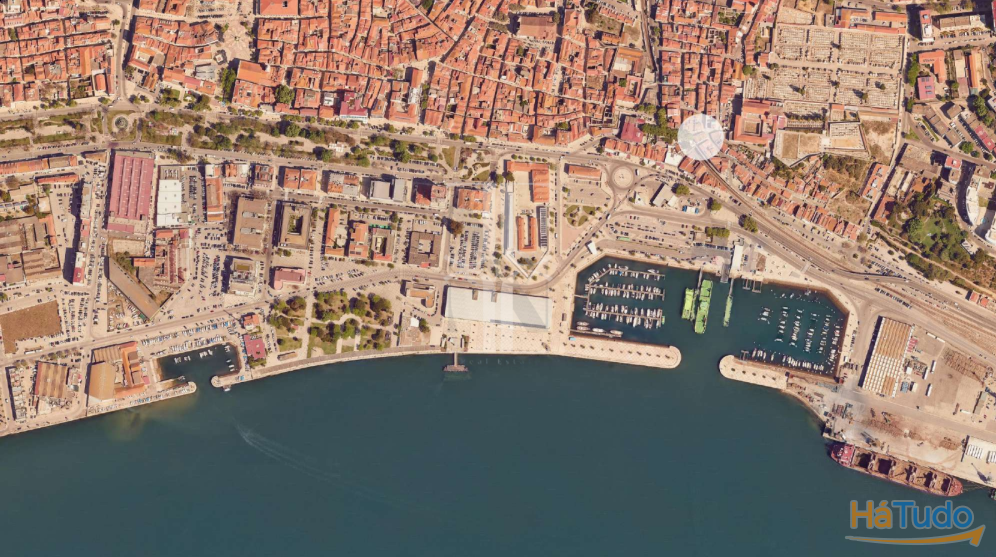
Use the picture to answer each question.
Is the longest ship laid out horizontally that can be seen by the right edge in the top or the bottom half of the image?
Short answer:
bottom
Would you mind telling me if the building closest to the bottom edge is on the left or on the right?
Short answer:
right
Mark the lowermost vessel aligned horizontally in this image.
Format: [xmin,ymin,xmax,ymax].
[830,447,963,497]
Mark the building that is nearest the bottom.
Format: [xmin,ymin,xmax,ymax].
[962,436,996,471]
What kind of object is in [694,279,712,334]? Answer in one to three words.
ship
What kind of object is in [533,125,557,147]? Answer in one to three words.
building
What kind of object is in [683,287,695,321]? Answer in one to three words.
ship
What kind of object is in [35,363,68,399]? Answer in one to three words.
shed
